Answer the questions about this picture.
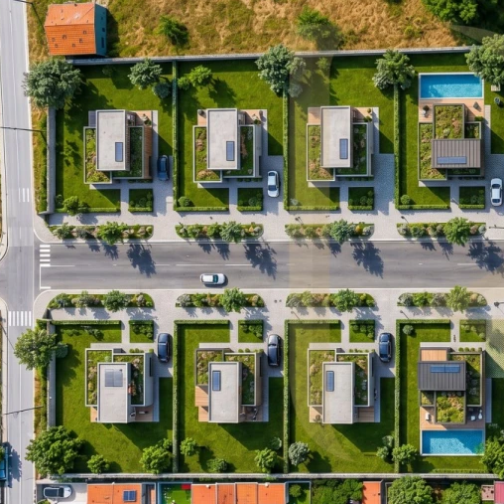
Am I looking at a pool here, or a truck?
pool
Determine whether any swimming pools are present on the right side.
Yes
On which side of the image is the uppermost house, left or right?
left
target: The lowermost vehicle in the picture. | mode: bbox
[42,485,72,499]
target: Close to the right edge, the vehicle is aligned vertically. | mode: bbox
[490,178,504,206]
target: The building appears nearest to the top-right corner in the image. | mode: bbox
[419,100,486,181]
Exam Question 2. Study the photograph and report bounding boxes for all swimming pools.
[419,72,484,100]
[421,429,485,456]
